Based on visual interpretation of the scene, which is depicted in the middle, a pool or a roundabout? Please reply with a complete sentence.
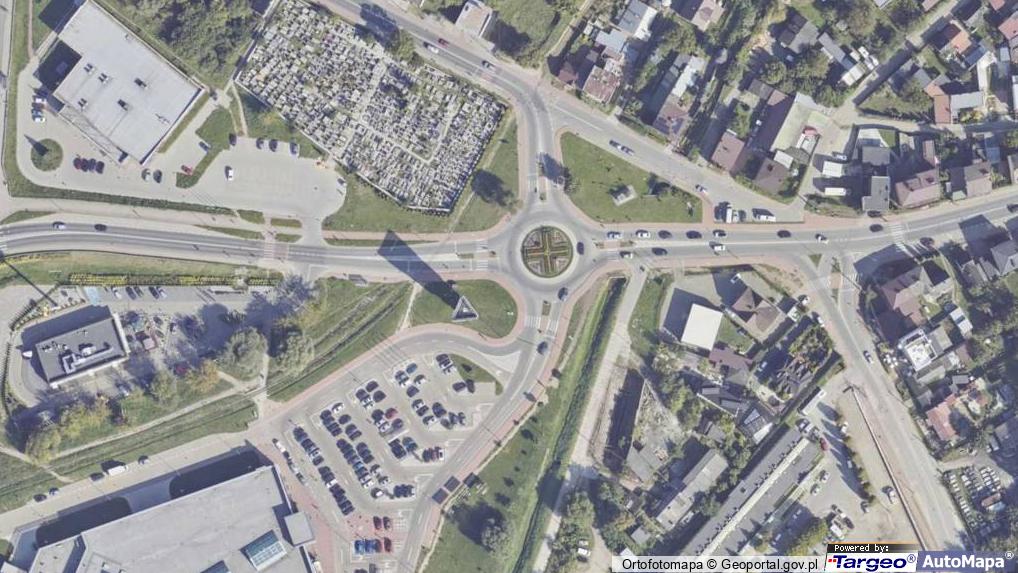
Visible in the middle is a roundabout.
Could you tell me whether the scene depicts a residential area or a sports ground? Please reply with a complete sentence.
What you see here is a residential area.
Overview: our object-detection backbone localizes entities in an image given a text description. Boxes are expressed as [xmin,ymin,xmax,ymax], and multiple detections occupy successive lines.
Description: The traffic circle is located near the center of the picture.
[501,205,593,297]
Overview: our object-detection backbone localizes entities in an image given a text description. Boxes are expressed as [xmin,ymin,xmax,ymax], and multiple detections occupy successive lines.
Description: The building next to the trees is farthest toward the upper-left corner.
[54,0,206,166]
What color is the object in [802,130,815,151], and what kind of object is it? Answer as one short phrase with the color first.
white vehicle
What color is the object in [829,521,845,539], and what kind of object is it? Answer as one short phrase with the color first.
white vehicle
